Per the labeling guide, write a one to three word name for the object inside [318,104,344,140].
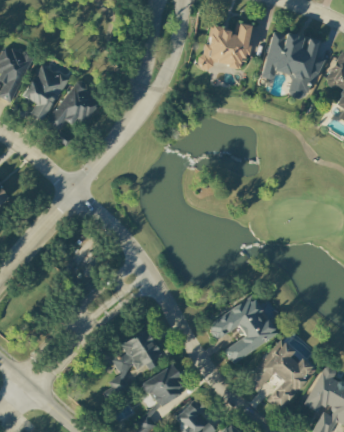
swimming pool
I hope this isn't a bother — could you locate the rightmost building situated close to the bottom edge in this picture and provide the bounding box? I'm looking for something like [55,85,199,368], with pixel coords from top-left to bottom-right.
[304,364,344,432]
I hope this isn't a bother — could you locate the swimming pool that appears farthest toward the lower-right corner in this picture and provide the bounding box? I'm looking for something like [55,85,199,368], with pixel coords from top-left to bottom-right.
[287,335,316,362]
